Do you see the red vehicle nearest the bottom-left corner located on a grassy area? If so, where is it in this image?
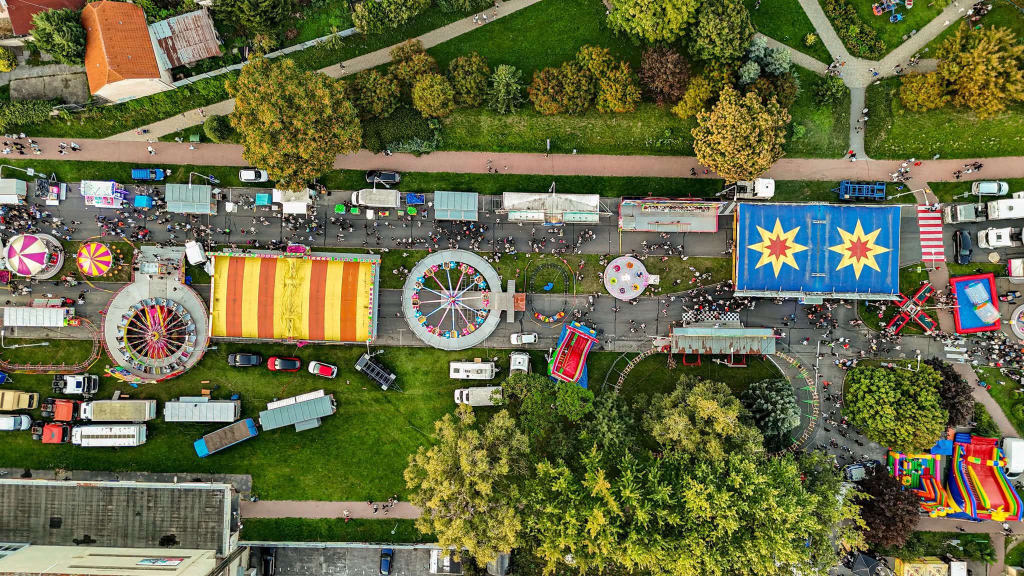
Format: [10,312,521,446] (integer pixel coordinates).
[31,425,74,446]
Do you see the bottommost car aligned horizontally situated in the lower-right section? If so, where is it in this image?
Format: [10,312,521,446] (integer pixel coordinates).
[843,461,880,481]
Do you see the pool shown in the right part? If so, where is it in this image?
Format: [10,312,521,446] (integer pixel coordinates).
[947,271,1004,336]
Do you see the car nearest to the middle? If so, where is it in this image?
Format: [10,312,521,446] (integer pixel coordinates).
[510,332,537,345]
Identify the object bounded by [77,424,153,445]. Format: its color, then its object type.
white truck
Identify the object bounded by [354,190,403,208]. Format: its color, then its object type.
white vehicle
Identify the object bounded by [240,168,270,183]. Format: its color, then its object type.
white car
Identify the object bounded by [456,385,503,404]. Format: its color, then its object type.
white camper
